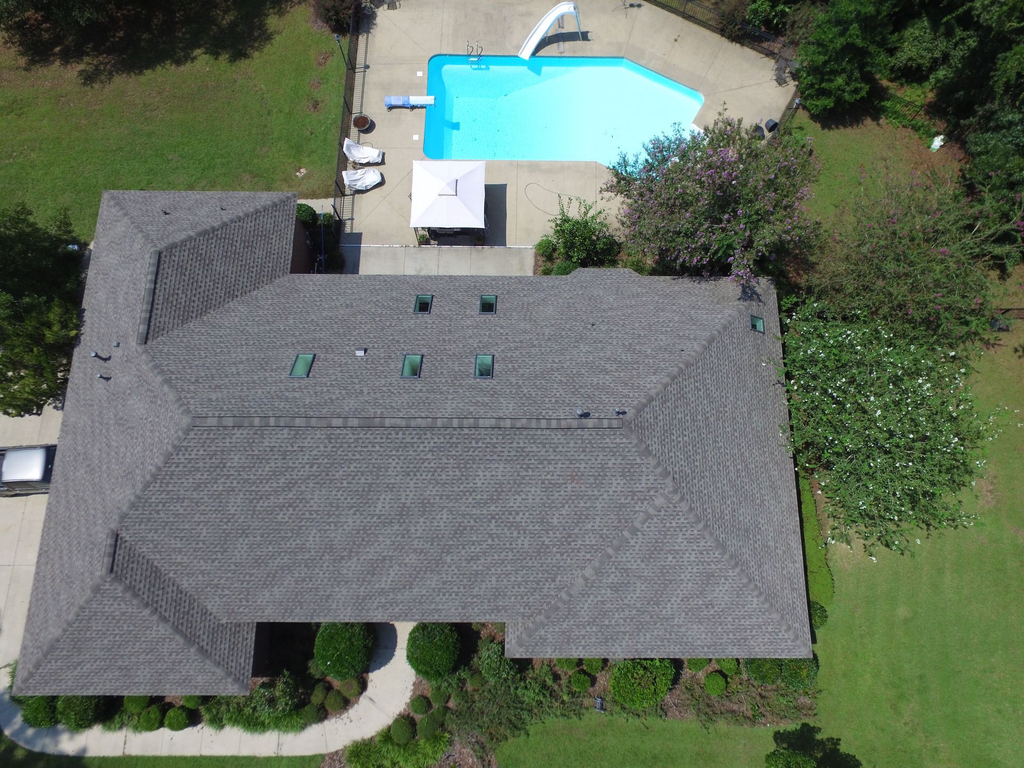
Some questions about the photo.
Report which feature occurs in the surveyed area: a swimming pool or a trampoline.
swimming pool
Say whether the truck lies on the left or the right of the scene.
left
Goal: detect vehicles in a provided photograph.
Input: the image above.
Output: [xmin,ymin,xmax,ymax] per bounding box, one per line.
[0,442,58,496]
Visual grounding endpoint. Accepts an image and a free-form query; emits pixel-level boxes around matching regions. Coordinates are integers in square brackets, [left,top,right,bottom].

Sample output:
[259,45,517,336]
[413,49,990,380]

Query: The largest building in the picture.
[13,191,812,695]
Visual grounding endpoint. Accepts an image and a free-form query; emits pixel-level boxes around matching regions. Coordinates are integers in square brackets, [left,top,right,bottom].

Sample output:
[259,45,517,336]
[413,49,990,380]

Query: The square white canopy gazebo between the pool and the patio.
[410,161,485,246]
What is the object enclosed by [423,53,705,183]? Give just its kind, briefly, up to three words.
swimming pool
